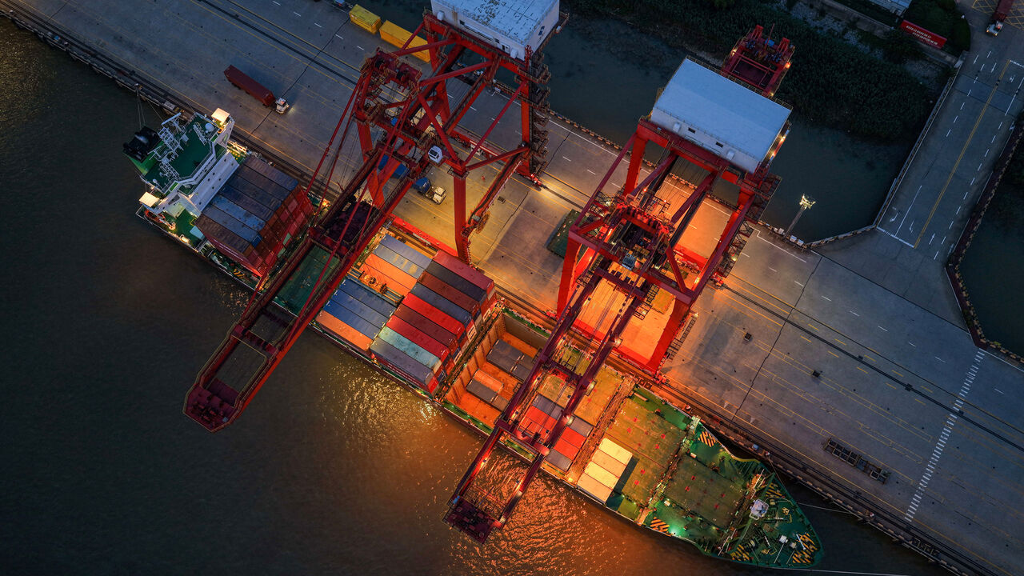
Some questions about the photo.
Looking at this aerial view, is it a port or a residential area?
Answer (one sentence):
It's a port.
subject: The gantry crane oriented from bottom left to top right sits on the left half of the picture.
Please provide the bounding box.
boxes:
[172,0,581,424]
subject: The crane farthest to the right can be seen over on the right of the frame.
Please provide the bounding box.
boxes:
[432,15,797,547]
